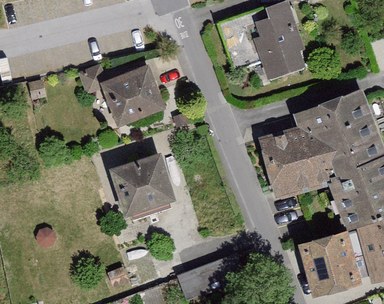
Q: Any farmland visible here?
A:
No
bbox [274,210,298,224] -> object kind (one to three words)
vehicle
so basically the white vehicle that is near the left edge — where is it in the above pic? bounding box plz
[0,58,12,82]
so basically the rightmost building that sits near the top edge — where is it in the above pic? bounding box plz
[255,0,306,82]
